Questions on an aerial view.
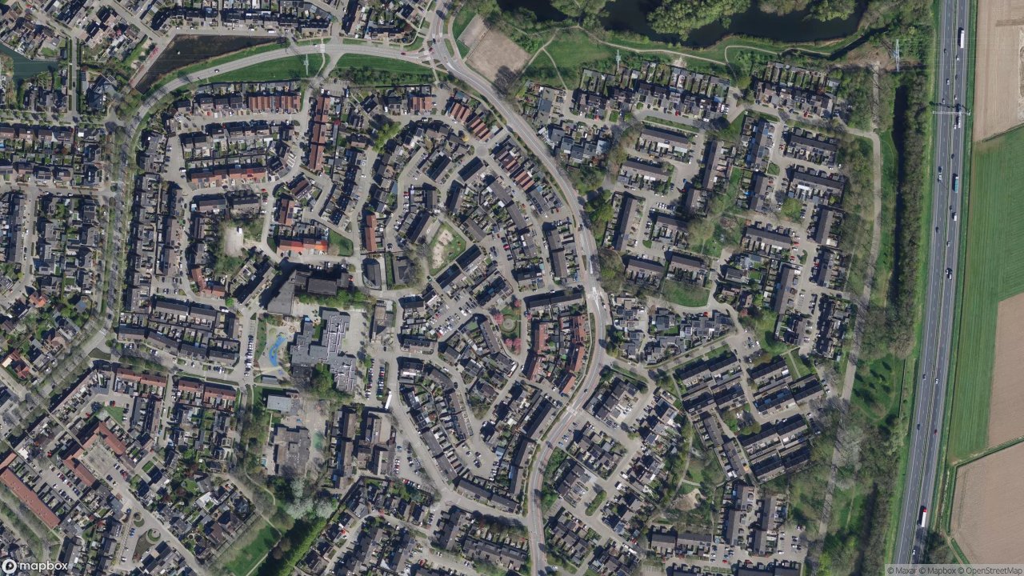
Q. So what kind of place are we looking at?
residential area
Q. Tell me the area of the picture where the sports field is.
top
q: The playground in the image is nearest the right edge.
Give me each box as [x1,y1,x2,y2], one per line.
[671,488,705,510]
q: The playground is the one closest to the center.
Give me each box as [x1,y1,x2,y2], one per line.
[431,228,458,271]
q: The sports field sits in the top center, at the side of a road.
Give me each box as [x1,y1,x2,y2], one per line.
[468,30,531,82]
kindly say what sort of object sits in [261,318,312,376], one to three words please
playground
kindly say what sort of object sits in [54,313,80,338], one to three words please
house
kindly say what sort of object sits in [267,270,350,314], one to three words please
building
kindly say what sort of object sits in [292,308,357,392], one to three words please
building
